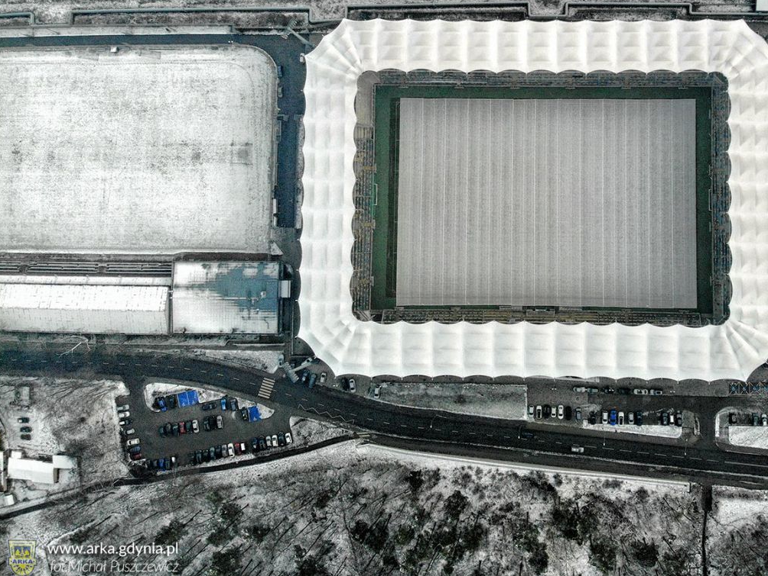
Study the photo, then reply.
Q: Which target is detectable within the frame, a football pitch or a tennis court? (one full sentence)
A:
I can see a football pitch in this picture.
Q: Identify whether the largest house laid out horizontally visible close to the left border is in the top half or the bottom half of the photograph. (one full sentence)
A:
Seen from above, the largest house laid out horizontally visible close to the left border lies in the bottom half of the view.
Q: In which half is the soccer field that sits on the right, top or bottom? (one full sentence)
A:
You can find the soccer field that sits on the right in the top half.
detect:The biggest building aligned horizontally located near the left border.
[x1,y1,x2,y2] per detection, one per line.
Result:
[3,457,62,485]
